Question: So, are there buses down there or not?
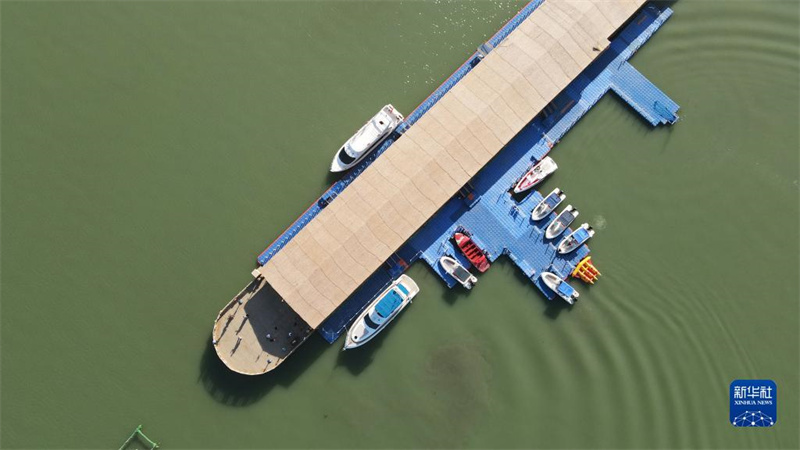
No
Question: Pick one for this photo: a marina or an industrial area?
marina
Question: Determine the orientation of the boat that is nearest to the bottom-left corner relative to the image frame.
at an angle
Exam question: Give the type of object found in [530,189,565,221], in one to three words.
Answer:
boat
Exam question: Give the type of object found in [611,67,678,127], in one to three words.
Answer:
pier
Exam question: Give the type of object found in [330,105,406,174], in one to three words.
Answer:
boat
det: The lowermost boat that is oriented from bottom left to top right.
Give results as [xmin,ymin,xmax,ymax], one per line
[334,274,419,351]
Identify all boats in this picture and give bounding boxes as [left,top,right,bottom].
[334,274,419,351]
[542,206,577,239]
[556,223,592,255]
[448,234,489,273]
[504,156,558,198]
[439,248,476,288]
[330,105,406,174]
[541,264,578,305]
[530,189,565,221]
